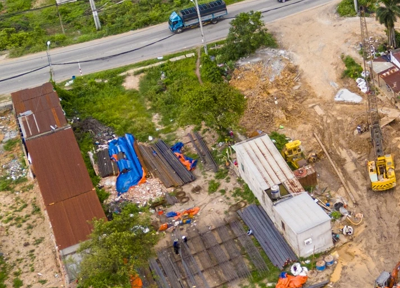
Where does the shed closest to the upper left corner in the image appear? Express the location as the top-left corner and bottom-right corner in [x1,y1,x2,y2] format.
[12,81,71,162]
